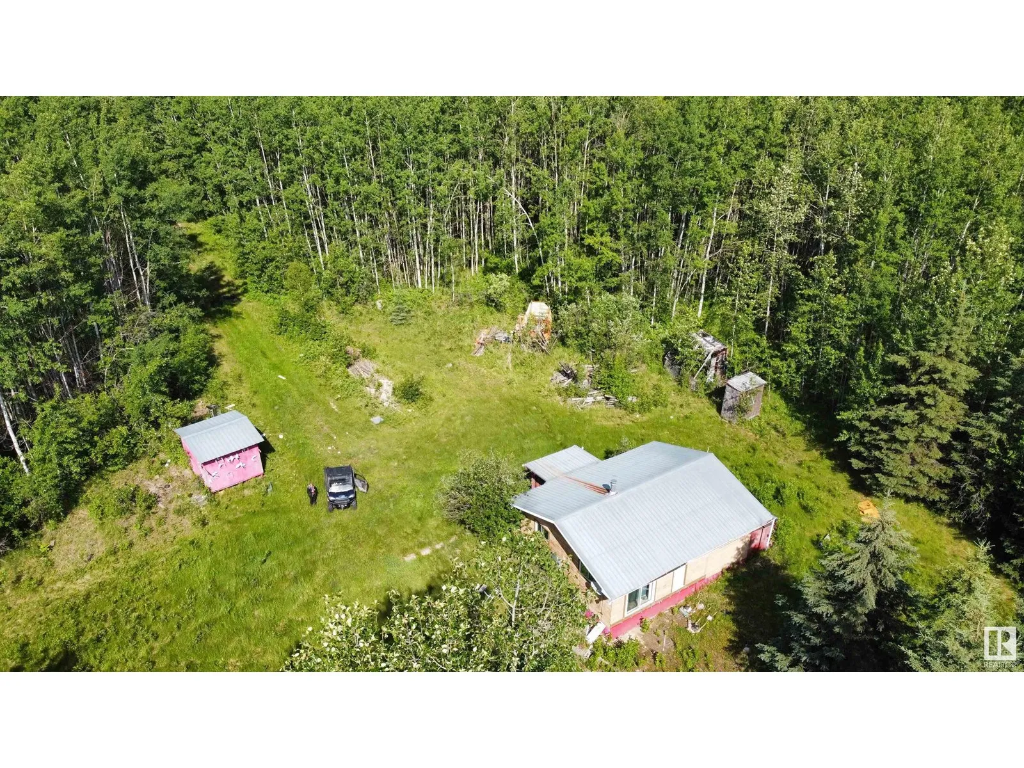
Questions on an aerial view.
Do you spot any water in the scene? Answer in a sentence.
No, there's no water in this view.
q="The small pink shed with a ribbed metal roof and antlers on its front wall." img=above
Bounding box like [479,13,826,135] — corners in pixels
[174,411,264,493]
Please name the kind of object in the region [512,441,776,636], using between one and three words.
house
